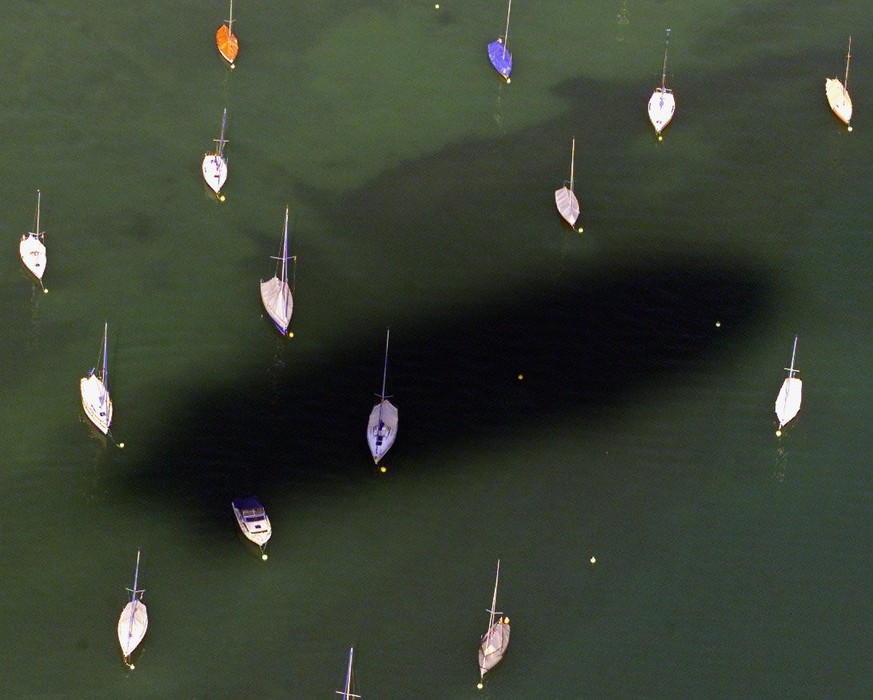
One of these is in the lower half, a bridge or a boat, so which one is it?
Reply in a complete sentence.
You can see a boat in the lower half.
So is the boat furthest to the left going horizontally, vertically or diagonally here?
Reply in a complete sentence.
The boat furthest to the left is laid out vertically.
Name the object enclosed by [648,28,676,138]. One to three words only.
boat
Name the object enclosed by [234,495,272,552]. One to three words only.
boat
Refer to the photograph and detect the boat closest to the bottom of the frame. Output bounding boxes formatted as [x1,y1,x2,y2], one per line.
[333,646,360,700]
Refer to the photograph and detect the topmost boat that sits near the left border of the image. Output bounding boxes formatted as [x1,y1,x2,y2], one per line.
[21,189,49,284]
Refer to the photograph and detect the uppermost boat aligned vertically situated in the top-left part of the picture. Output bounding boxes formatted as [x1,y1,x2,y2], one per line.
[217,0,240,66]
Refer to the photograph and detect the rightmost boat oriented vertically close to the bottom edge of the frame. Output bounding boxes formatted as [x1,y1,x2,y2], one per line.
[477,558,514,681]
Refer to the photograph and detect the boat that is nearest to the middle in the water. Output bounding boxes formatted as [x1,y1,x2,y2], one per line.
[365,327,399,469]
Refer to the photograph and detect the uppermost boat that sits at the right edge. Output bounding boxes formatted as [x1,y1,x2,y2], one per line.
[824,34,853,127]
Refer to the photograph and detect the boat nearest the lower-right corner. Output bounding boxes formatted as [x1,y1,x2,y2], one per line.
[775,334,804,429]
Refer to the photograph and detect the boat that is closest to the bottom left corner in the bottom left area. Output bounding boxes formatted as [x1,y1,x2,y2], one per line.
[116,549,149,661]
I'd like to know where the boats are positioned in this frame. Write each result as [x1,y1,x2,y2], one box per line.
[555,136,581,229]
[775,334,804,429]
[824,34,853,127]
[261,203,297,338]
[203,107,228,199]
[333,646,360,700]
[234,495,272,552]
[489,0,513,81]
[82,321,114,439]
[116,549,149,661]
[648,28,676,138]
[365,327,399,469]
[217,0,240,66]
[21,189,49,284]
[477,558,514,681]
